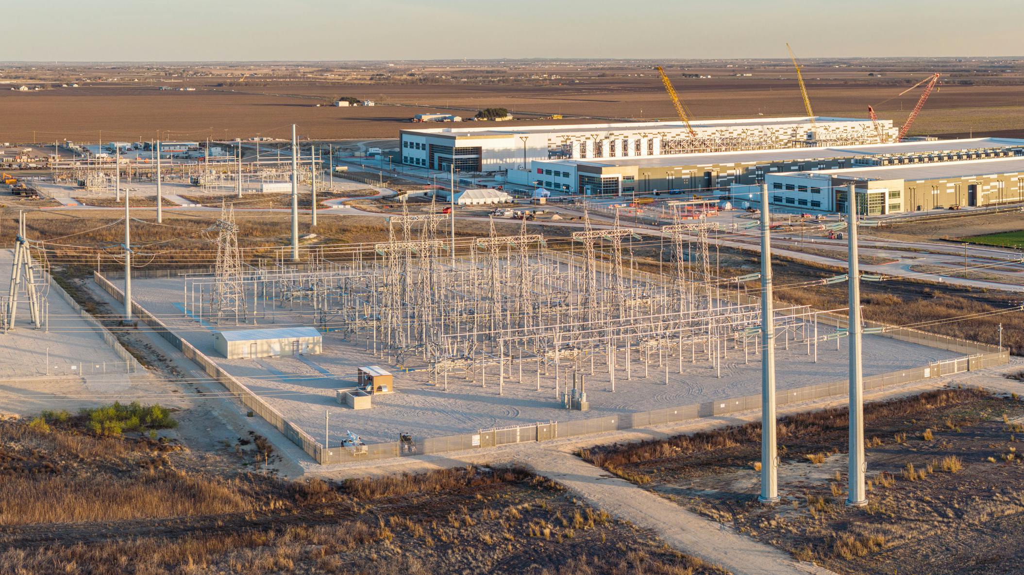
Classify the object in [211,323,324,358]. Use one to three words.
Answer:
building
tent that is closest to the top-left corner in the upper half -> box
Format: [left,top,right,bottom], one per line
[455,186,507,204]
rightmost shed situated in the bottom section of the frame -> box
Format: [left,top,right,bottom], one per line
[359,367,393,396]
